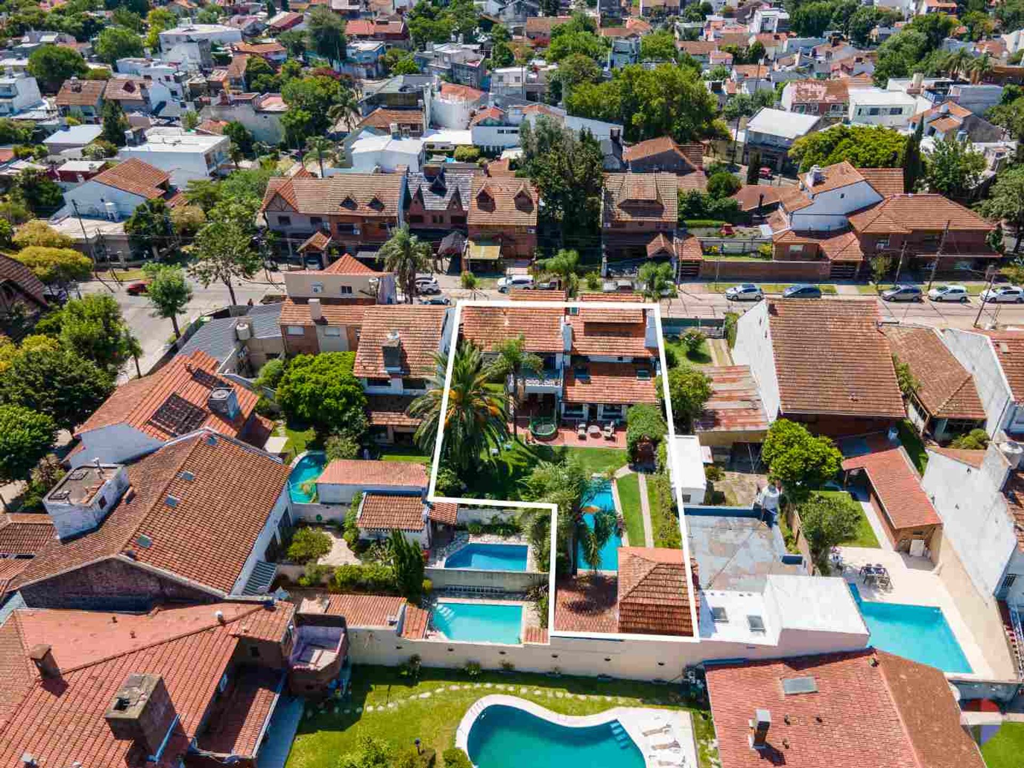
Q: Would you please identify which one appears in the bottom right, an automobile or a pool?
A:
pool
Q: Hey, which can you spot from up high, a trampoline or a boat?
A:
trampoline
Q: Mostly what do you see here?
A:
buildings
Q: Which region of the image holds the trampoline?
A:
center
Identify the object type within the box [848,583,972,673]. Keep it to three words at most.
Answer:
swimming pool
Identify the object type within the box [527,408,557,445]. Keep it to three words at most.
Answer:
trampoline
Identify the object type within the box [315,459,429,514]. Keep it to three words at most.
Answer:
shed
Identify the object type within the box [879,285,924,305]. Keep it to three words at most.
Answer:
car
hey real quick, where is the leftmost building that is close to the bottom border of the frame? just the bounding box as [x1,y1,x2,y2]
[0,601,296,768]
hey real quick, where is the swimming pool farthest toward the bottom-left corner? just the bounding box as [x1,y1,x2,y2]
[289,453,326,502]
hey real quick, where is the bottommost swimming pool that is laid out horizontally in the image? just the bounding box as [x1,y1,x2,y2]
[467,705,646,768]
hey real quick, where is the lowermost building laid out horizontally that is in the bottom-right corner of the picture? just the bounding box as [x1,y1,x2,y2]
[701,647,988,768]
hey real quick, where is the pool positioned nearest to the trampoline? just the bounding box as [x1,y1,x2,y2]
[581,479,622,565]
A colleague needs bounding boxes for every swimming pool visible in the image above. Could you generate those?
[581,479,622,565]
[848,583,972,673]
[430,603,524,642]
[467,705,646,768]
[447,543,532,567]
[289,453,326,502]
